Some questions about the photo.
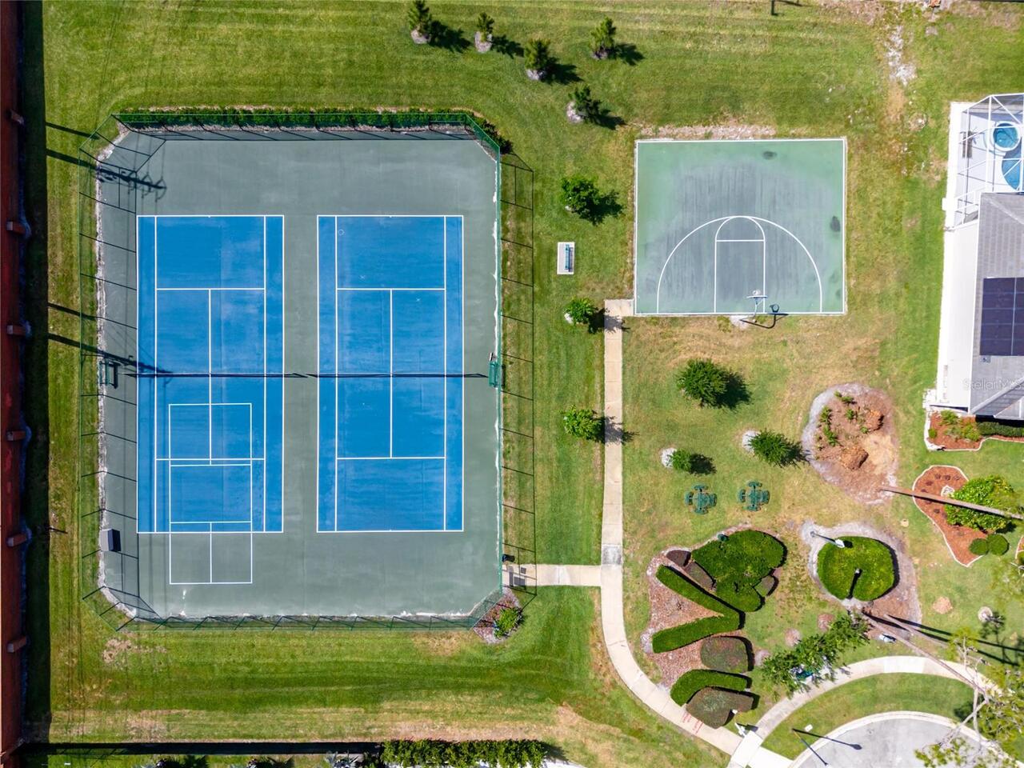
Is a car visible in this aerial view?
No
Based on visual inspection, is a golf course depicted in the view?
No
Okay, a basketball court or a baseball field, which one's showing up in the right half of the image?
basketball court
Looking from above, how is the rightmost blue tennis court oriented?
up and down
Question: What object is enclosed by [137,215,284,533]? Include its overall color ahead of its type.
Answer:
blue tennis court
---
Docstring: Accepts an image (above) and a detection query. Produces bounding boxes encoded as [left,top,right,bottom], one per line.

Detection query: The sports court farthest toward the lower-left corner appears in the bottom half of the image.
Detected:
[168,404,252,584]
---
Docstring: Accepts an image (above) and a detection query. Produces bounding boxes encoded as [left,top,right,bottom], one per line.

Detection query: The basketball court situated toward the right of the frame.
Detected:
[633,136,848,317]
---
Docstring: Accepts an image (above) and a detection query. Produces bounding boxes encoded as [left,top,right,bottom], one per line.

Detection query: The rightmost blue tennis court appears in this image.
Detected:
[317,215,463,532]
